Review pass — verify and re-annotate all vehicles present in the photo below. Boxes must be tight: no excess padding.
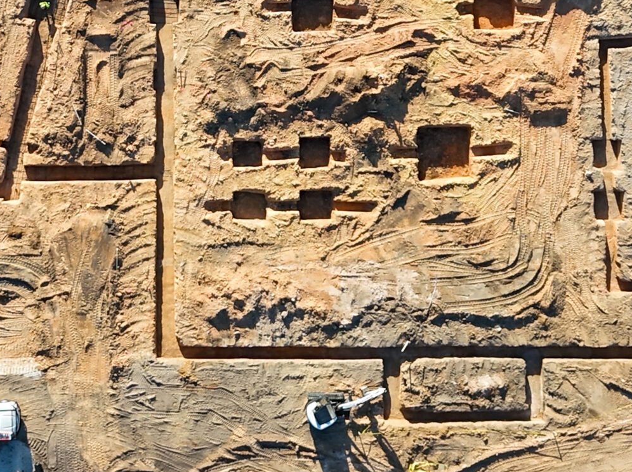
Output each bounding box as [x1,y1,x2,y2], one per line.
[307,384,388,429]
[0,399,19,445]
